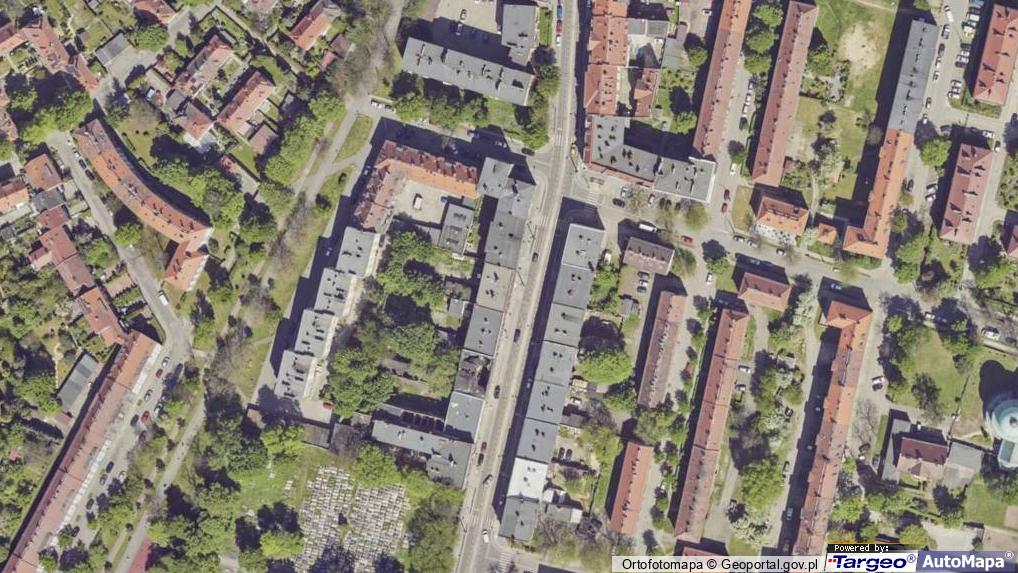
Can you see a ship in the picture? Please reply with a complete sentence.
No, the photo shows no ship.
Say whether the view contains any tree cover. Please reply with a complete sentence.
Yes, tree cover shows up in the scene.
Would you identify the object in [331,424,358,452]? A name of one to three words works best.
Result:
shed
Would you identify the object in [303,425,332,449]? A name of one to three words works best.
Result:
shed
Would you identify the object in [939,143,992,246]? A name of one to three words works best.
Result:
house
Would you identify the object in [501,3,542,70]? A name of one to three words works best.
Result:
building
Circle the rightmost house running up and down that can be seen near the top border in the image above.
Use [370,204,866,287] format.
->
[973,3,1018,107]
